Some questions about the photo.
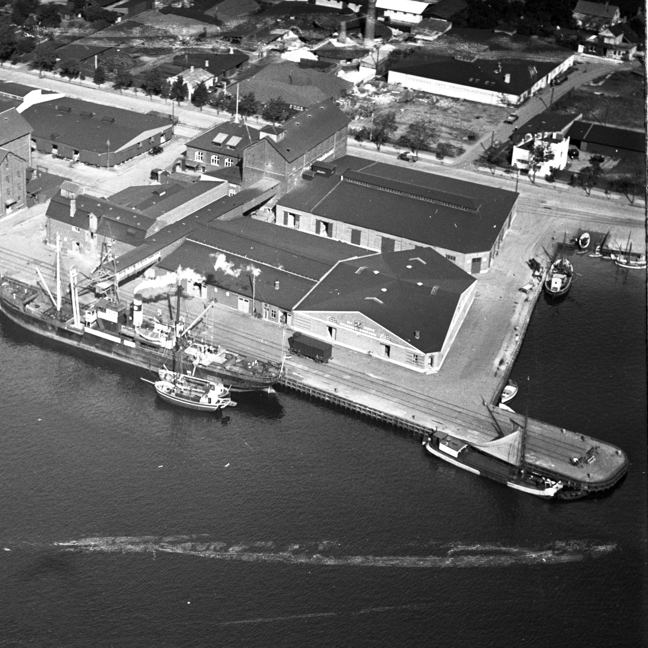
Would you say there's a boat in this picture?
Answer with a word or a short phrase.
Yes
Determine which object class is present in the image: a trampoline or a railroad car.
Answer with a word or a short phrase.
railroad car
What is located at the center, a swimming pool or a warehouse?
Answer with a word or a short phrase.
warehouse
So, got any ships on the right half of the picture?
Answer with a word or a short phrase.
Yes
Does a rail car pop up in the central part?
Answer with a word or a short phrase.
Yes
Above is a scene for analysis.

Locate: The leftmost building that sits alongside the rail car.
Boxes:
[146,218,360,328]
